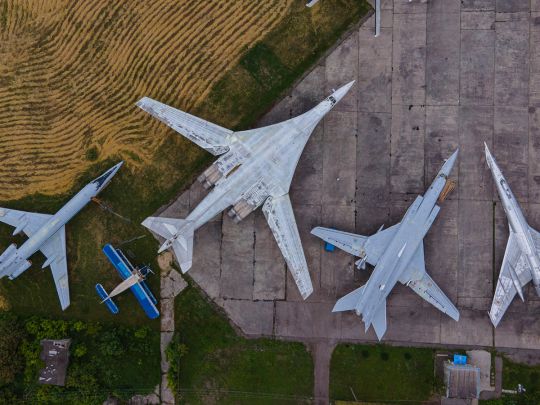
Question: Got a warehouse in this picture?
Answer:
No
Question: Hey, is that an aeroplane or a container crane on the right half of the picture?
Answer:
aeroplane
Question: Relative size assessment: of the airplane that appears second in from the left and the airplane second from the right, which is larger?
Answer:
the airplane second from the right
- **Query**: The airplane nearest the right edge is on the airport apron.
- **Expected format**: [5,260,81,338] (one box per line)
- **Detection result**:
[485,142,540,327]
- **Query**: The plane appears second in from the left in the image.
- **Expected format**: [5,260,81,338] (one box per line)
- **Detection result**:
[96,245,158,319]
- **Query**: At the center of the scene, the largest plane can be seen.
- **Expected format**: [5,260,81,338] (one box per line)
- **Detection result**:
[133,81,354,297]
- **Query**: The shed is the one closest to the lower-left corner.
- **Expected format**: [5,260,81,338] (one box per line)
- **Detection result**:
[40,339,73,385]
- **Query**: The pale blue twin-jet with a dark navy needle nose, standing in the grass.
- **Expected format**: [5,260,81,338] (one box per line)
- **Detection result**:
[0,160,123,311]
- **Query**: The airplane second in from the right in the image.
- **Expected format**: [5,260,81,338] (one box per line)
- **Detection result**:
[309,149,460,340]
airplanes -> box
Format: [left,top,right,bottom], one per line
[0,160,123,311]
[96,245,158,319]
[309,149,460,340]
[133,81,354,297]
[485,142,540,327]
